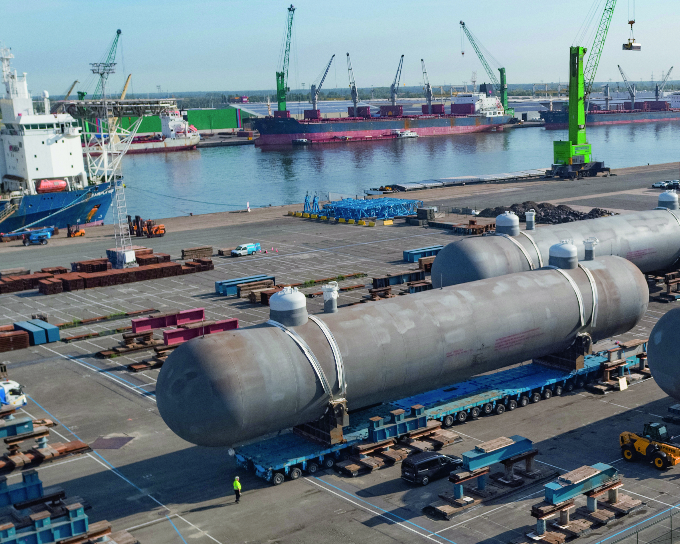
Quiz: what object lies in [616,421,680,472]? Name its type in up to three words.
work vehicle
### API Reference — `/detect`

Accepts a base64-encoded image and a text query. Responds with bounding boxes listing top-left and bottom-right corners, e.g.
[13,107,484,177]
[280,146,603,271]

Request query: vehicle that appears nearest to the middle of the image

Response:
[229,241,265,256]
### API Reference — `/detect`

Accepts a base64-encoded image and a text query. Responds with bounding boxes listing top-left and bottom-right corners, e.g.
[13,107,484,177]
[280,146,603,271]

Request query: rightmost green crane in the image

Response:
[541,0,634,179]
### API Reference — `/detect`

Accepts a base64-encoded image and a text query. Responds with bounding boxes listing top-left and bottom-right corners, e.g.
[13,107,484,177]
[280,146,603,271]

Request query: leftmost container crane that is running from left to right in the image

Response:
[354,75,413,98]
